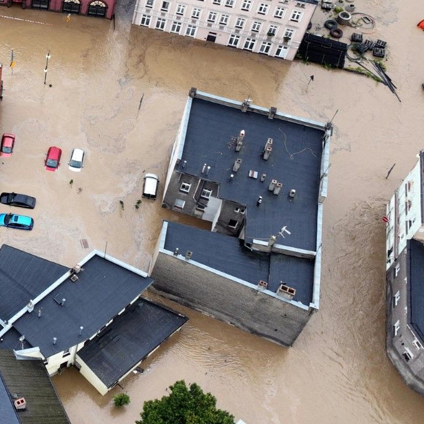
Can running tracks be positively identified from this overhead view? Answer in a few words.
No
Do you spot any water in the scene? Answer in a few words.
Yes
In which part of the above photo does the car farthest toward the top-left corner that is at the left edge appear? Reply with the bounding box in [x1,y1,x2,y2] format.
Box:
[0,132,15,157]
